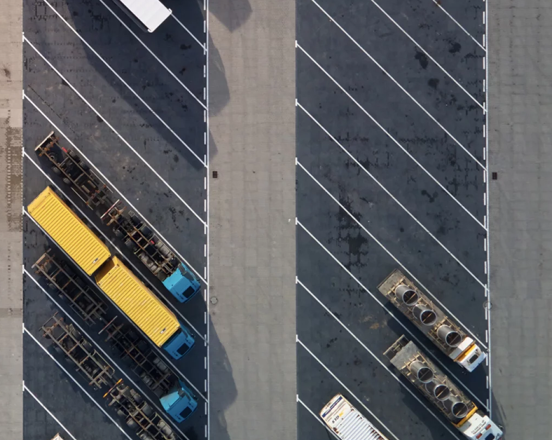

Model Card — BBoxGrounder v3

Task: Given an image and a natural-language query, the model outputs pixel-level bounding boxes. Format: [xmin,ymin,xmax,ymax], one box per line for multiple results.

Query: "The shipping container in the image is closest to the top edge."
[28,187,111,275]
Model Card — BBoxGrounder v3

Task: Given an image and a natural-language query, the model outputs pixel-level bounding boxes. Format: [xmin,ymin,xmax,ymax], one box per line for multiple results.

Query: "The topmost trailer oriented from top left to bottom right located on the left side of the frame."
[35,131,112,212]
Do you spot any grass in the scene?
No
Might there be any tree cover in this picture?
No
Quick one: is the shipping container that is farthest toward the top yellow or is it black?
yellow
